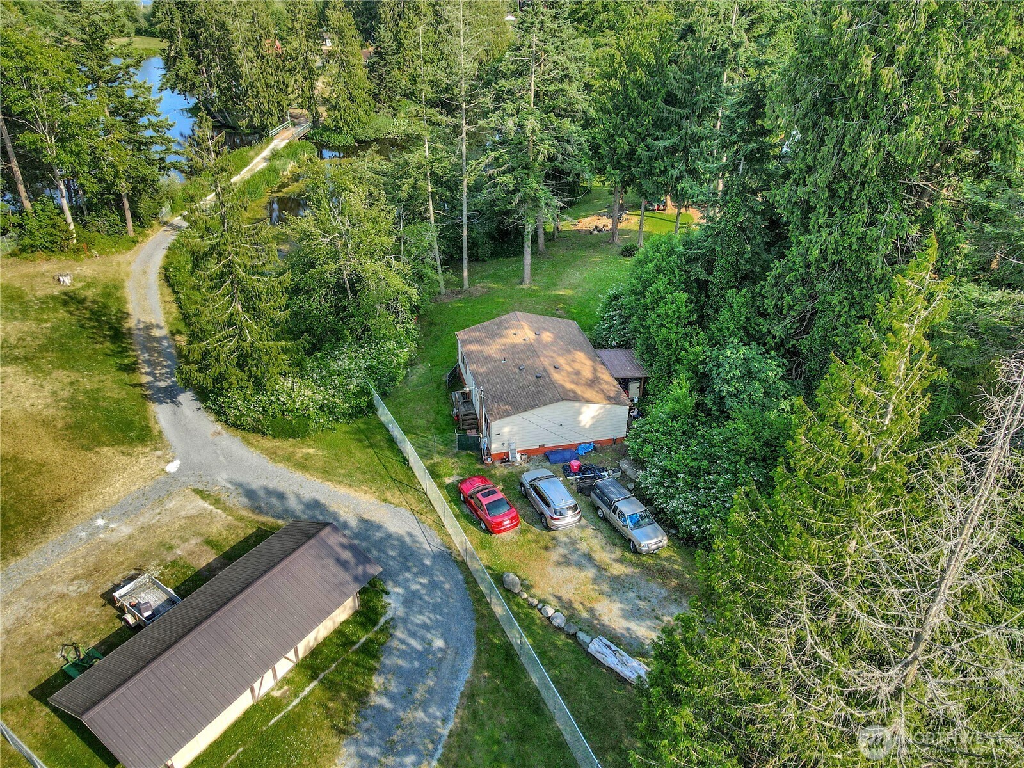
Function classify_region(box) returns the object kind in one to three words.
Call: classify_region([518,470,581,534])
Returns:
car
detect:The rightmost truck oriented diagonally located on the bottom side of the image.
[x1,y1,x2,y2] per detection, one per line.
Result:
[588,475,672,558]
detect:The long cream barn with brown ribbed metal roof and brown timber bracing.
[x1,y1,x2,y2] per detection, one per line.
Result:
[47,519,382,768]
